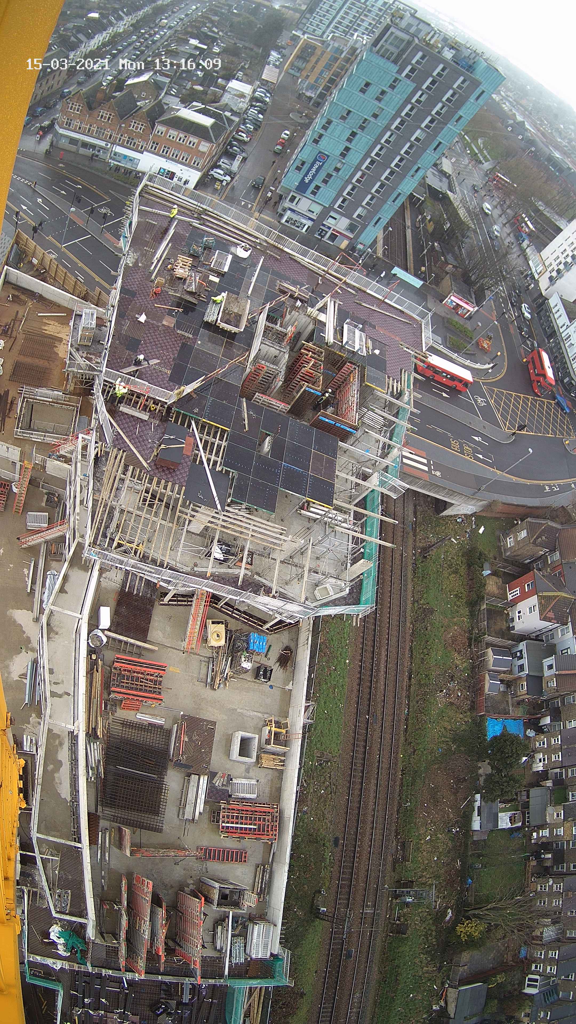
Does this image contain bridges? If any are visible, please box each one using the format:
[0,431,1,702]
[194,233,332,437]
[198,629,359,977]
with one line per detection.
[386,464,492,515]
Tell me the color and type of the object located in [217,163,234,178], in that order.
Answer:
gray car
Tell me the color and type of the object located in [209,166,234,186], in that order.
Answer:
white car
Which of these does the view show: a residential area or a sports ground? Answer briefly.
residential area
